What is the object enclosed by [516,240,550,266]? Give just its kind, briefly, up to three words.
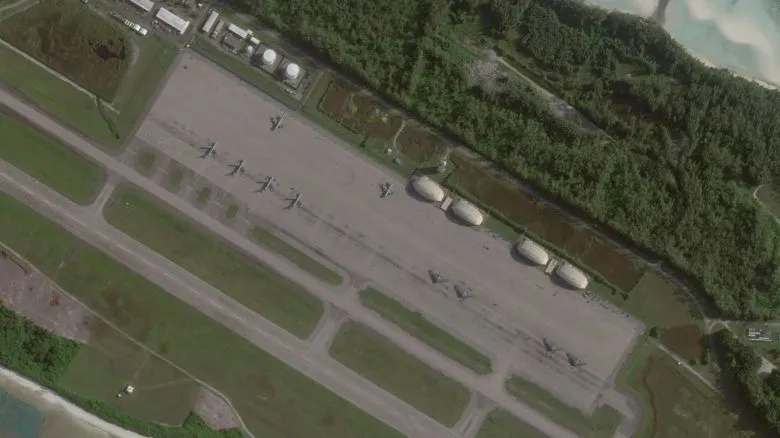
hangar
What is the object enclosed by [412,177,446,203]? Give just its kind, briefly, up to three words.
hangar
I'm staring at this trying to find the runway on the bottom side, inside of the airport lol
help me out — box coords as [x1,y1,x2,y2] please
[0,158,452,438]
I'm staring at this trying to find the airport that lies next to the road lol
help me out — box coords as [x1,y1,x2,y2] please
[0,46,648,438]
